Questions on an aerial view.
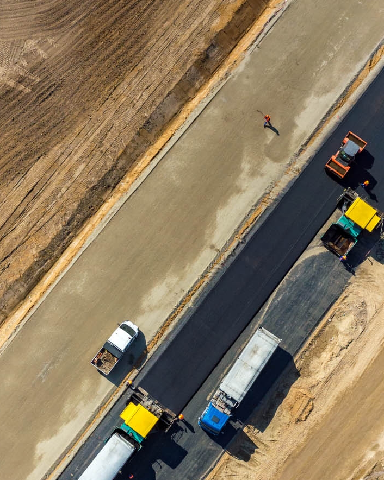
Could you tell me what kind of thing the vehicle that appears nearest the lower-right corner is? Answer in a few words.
truck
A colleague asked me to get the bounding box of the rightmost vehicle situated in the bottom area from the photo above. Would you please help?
[195,325,283,440]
